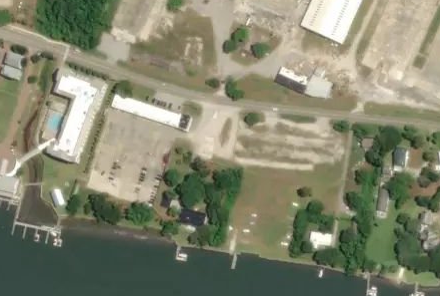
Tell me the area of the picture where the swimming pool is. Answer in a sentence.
Look in the left portion of the view to spot the swimming pool.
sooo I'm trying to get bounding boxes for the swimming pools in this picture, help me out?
[42,109,66,142]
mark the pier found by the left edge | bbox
[0,195,61,243]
